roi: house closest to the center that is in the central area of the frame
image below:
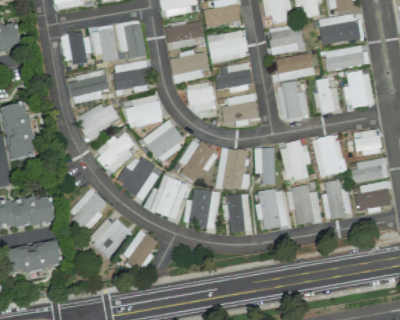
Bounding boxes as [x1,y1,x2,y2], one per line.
[181,140,222,188]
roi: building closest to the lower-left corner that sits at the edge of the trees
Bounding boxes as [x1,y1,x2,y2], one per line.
[10,242,62,272]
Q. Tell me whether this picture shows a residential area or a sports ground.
residential area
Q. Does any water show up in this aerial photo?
No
